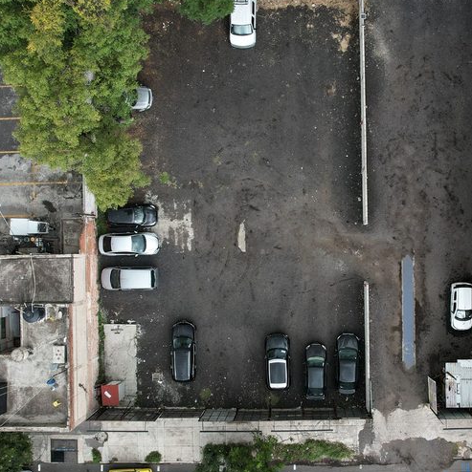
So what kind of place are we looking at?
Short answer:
parking lot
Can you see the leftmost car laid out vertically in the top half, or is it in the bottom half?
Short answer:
bottom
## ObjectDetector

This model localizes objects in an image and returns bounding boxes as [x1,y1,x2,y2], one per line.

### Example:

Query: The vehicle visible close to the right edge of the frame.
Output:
[448,281,472,332]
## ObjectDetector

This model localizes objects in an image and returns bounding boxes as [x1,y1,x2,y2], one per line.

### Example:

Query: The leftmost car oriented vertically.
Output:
[167,320,198,384]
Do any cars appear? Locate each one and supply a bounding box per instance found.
[263,332,291,391]
[303,341,329,399]
[227,0,257,50]
[101,264,160,293]
[105,202,160,230]
[98,230,162,258]
[335,332,361,395]
[108,465,154,472]
[167,320,198,384]
[448,281,472,332]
